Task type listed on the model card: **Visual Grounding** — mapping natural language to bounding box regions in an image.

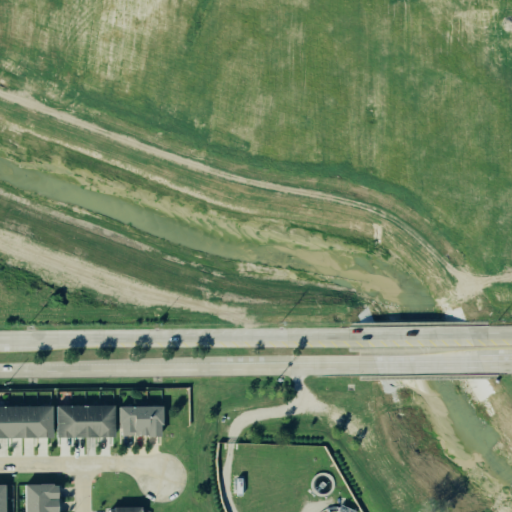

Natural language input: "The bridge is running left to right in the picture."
[350,322,512,379]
